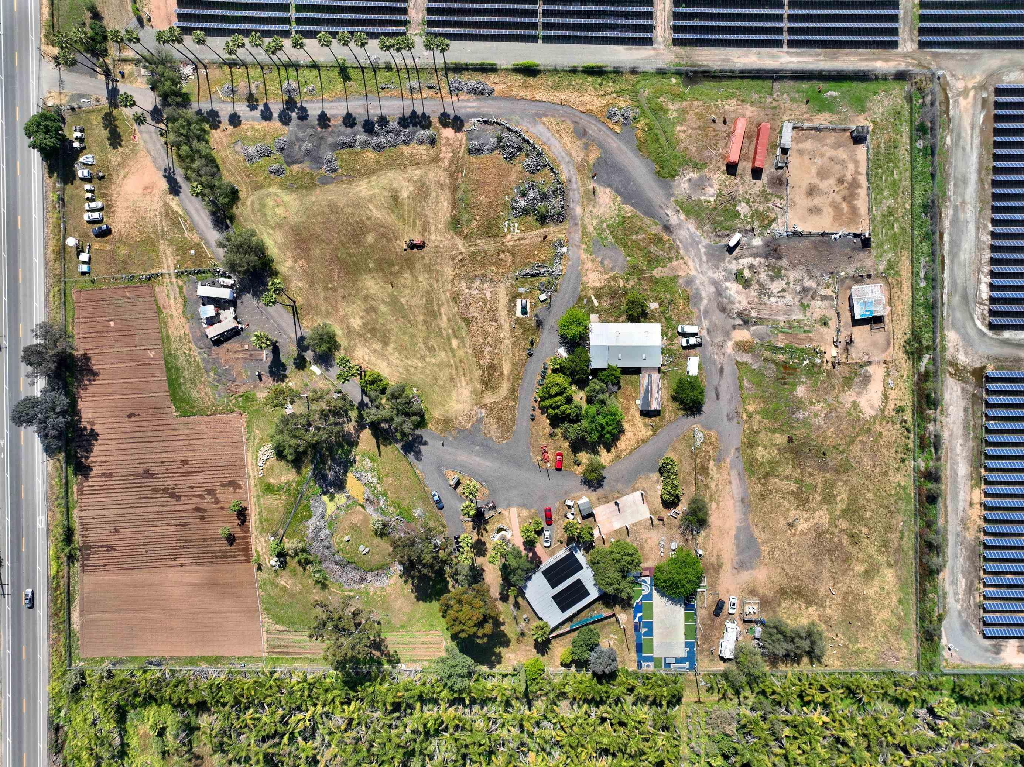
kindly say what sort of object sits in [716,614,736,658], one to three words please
camper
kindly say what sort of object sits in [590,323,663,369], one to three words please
house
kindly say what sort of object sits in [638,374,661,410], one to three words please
building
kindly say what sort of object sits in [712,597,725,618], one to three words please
vehicle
